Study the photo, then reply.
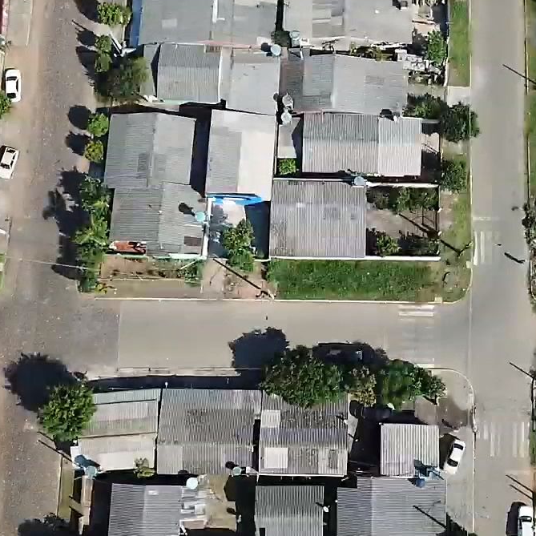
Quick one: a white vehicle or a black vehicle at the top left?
white vehicle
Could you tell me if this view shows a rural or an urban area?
urban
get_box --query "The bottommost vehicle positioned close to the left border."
[0,146,18,179]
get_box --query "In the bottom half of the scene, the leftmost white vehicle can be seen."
[442,437,466,476]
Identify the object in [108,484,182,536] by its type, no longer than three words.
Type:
house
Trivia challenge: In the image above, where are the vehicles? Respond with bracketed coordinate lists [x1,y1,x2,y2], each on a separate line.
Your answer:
[516,505,535,536]
[362,403,396,420]
[442,437,466,476]
[0,146,18,179]
[3,71,21,102]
